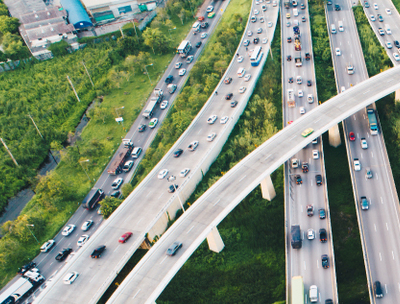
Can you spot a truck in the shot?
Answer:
Yes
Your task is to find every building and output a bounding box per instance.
[2,0,75,59]
[82,0,155,29]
